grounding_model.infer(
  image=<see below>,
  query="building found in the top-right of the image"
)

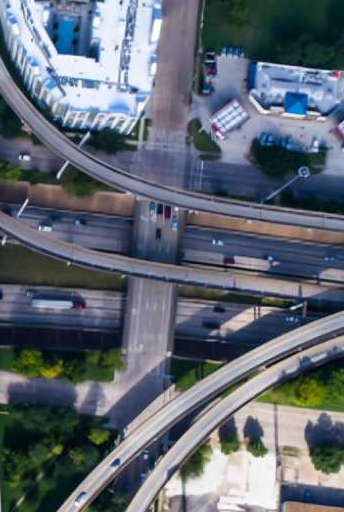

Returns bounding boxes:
[245,62,343,123]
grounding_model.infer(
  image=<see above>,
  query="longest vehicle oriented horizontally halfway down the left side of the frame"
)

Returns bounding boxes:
[29,298,86,310]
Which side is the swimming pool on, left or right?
left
